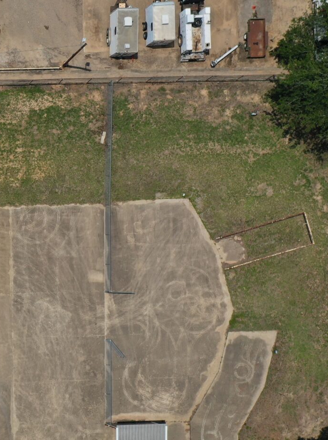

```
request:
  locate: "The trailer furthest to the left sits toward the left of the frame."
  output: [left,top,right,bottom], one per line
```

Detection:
[107,5,139,59]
